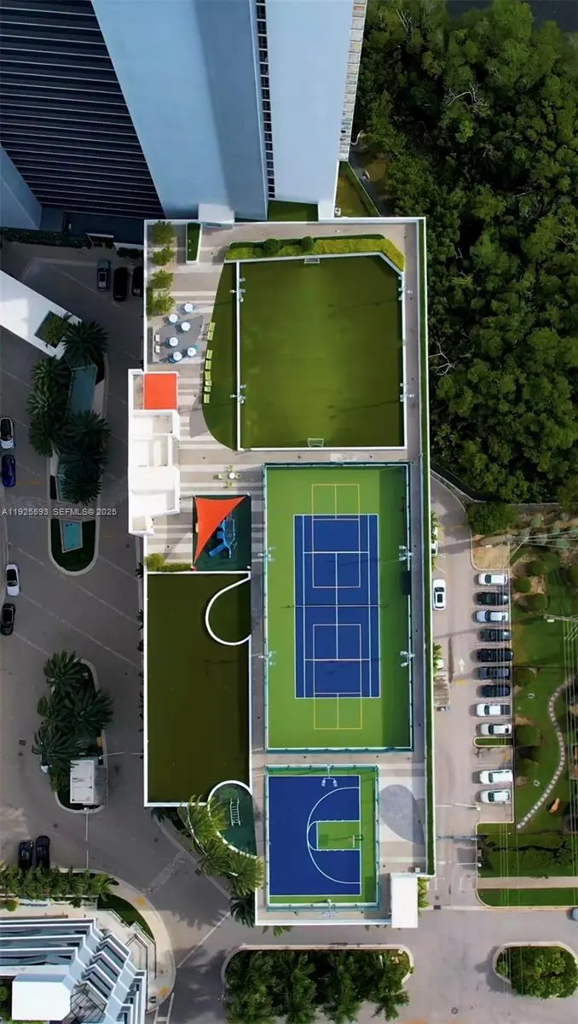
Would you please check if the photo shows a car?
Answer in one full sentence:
Yes, looking at the shot, I can spot a car.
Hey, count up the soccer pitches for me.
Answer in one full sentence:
There is 1 soccer pitch in the image.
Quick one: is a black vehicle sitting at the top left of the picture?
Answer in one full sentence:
Yes, you'll find a black vehicle at the top left of the picture.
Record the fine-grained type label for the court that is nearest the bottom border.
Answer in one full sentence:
The court that is nearest the bottom border appears to be a basketball court.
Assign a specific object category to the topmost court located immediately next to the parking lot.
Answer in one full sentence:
From above, the topmost court located immediately next to the parking lot can be identified as a tennis court.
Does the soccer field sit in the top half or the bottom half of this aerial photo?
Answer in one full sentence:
The soccer field is in the top half of the image.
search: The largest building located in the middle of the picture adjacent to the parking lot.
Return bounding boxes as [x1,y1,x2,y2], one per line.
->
[142,216,437,929]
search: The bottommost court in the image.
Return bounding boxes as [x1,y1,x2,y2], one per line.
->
[268,768,376,903]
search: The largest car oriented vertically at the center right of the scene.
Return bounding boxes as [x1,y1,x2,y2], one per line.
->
[432,578,447,611]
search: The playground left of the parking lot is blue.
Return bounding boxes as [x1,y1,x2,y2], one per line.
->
[208,513,237,557]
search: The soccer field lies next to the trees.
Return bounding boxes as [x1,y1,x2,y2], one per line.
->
[237,252,406,451]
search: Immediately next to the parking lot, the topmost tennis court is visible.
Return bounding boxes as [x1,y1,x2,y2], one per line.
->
[267,466,411,747]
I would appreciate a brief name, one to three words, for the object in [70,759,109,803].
building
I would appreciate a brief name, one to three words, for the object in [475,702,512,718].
vehicle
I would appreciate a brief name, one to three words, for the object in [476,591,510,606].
car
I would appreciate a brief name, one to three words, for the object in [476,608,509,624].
car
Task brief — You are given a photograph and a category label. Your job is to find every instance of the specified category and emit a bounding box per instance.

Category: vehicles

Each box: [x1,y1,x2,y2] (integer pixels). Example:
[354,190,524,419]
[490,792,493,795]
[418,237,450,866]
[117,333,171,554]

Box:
[476,608,509,624]
[0,603,15,636]
[131,266,142,298]
[479,769,514,786]
[18,838,34,873]
[112,268,128,301]
[476,591,510,606]
[479,683,512,699]
[475,702,512,718]
[478,722,512,738]
[5,563,21,597]
[34,835,51,870]
[476,571,509,587]
[478,665,510,681]
[0,454,16,487]
[96,259,112,292]
[432,578,447,611]
[479,788,513,805]
[478,647,512,663]
[479,627,512,643]
[0,417,15,450]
